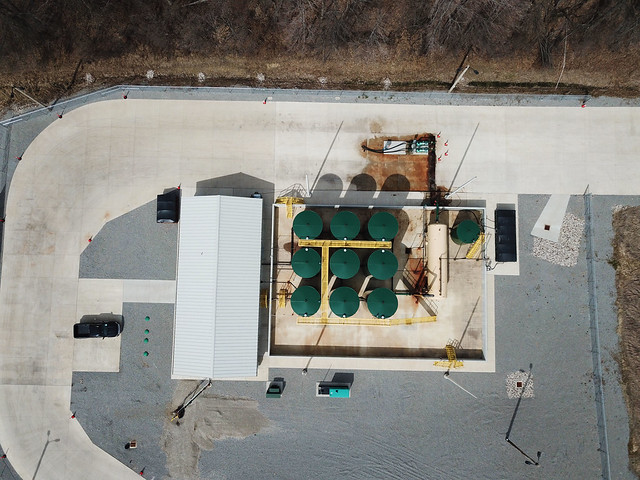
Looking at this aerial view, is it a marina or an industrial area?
industrial area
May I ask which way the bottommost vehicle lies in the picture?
horizontally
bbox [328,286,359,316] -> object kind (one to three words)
storage tank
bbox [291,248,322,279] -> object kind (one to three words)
storage tank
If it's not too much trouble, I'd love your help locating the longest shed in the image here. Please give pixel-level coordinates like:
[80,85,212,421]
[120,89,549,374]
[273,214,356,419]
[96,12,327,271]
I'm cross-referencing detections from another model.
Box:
[172,194,264,380]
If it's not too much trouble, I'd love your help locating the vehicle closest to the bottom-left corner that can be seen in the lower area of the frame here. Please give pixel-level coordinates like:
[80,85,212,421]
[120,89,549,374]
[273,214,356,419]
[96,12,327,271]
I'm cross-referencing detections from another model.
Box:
[73,318,124,338]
